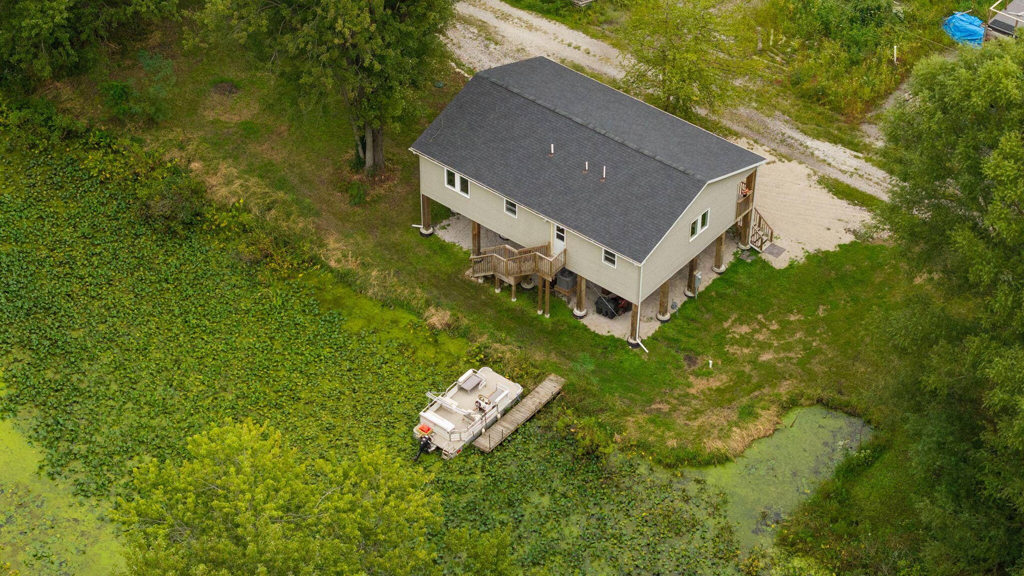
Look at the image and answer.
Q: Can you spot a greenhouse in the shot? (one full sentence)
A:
No, I can't see a single greenhouse in this photo.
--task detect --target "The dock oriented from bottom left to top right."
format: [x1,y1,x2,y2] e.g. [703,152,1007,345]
[476,374,572,461]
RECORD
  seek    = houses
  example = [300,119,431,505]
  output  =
[407,56,769,352]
